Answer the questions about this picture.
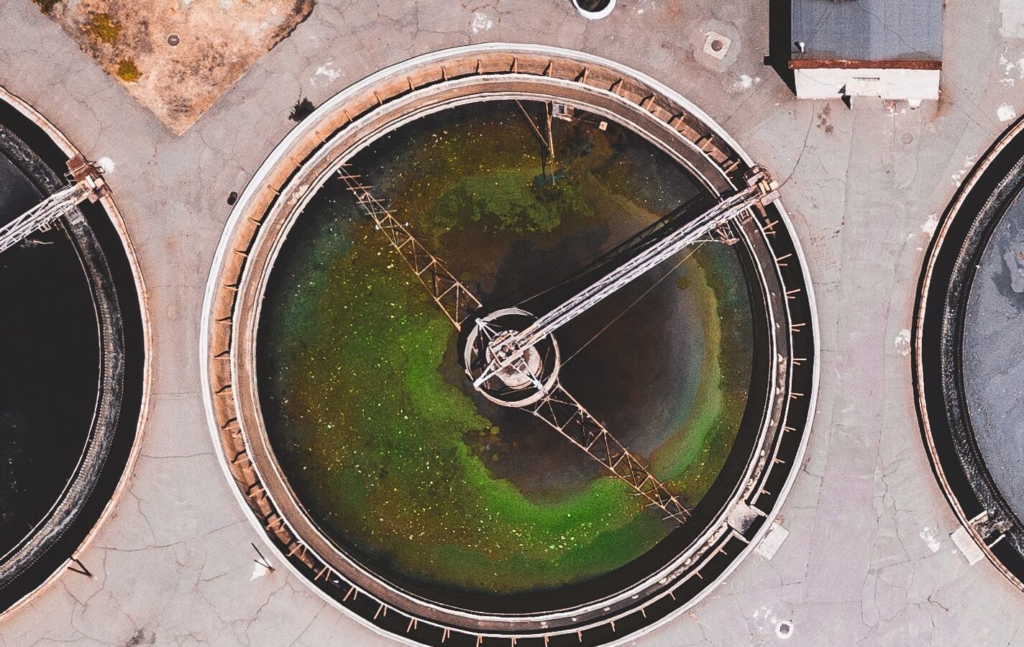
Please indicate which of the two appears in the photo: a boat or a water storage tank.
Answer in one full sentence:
This aerial view contains a water storage tank.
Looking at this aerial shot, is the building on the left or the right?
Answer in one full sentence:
The building is on the right side of the image.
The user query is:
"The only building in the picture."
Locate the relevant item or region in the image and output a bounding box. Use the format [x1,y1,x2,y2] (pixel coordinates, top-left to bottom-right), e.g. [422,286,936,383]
[788,0,943,114]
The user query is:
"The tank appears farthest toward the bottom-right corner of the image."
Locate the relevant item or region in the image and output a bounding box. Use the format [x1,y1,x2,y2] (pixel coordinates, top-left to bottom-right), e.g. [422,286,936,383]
[916,121,1024,588]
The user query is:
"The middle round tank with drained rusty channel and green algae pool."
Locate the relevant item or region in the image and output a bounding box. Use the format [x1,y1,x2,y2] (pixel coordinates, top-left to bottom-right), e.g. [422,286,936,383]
[201,42,820,647]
